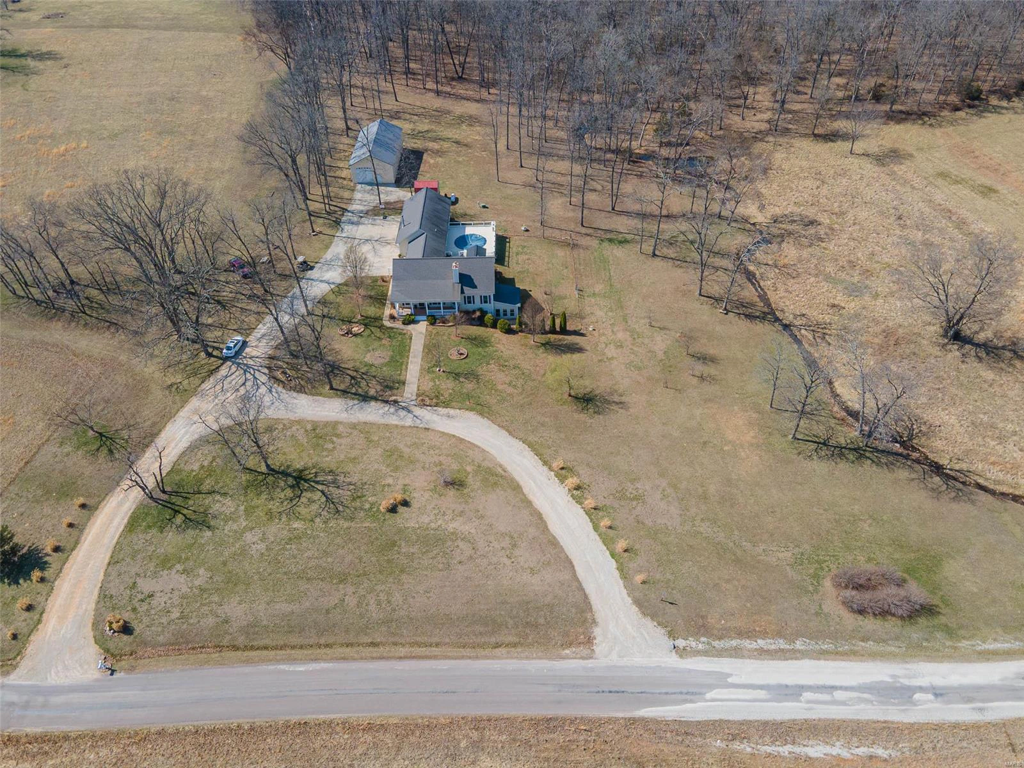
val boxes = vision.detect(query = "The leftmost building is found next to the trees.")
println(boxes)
[348,119,403,183]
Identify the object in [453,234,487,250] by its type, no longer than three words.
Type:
swimming pool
